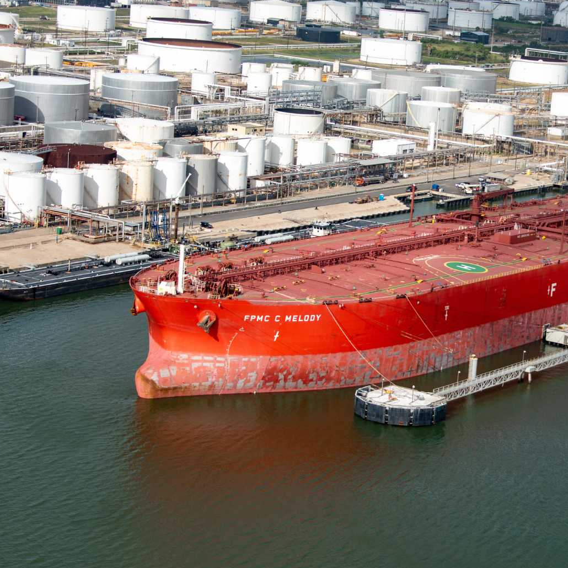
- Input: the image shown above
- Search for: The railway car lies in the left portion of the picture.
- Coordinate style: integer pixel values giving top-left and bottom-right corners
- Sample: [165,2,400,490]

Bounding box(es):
[175,125,199,137]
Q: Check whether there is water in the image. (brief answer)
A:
Yes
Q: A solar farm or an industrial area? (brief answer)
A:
industrial area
